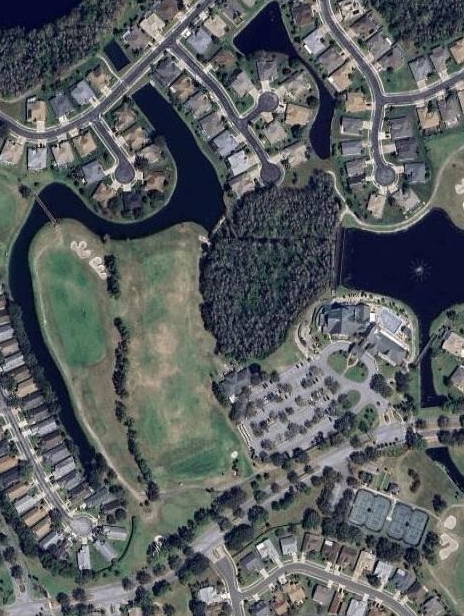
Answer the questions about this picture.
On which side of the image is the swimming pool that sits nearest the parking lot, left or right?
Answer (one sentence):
You can find the swimming pool that sits nearest the parking lot on the right side of the picture.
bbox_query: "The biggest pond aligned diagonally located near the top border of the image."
[233,1,334,159]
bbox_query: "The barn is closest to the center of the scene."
[217,365,254,401]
